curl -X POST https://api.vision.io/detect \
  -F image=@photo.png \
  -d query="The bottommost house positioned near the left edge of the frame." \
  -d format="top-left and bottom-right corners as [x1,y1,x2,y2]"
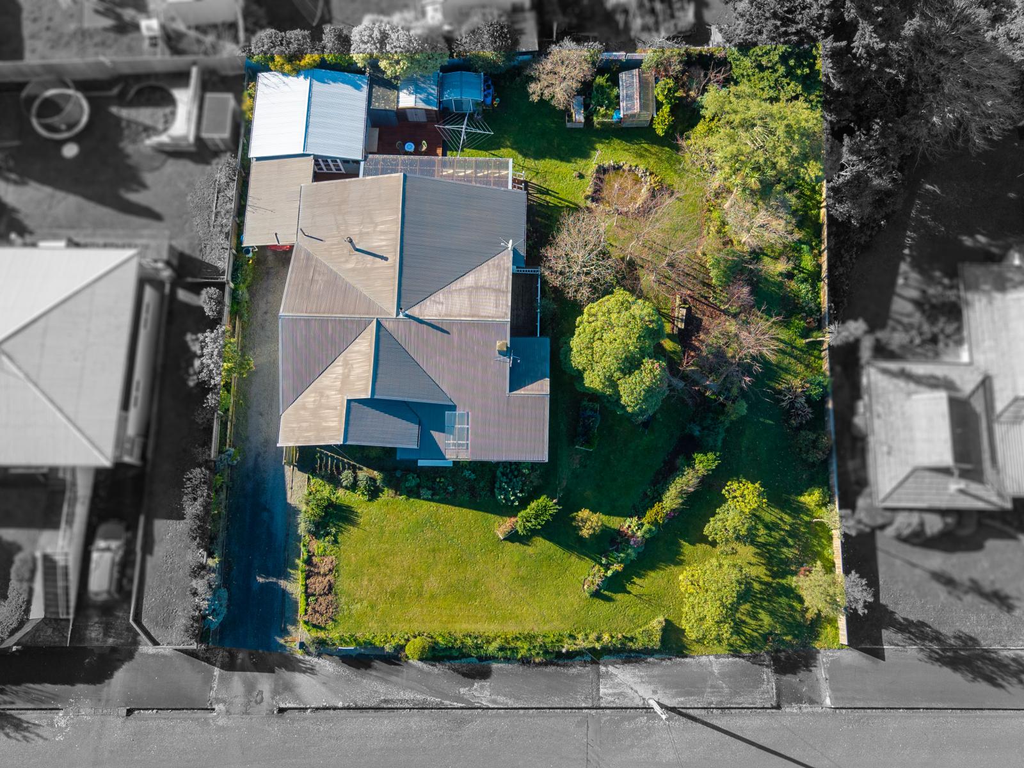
[0,235,171,467]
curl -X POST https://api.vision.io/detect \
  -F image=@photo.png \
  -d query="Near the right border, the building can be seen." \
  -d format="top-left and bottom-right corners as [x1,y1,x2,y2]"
[850,252,1024,510]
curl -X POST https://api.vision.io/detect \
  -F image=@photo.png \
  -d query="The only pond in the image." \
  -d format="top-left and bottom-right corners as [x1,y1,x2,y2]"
[584,160,655,215]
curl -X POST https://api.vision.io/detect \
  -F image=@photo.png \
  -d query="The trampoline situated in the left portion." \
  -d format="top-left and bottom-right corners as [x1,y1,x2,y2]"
[7,71,96,144]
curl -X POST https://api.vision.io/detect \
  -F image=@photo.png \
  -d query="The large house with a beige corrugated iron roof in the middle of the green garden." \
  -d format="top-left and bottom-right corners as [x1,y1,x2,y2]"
[278,172,551,465]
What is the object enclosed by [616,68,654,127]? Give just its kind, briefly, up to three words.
greenhouse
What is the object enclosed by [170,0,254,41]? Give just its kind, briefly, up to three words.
shed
